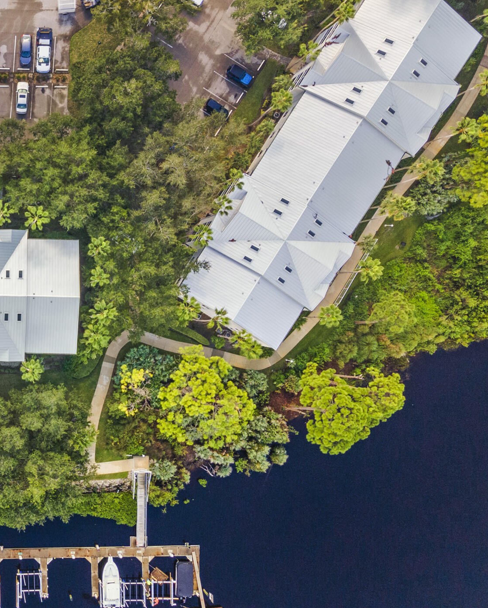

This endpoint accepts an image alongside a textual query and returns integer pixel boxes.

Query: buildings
[0,228,82,361]
[179,0,475,348]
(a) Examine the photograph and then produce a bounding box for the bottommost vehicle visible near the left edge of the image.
[15,82,30,115]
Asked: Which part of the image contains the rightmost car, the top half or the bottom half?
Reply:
top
